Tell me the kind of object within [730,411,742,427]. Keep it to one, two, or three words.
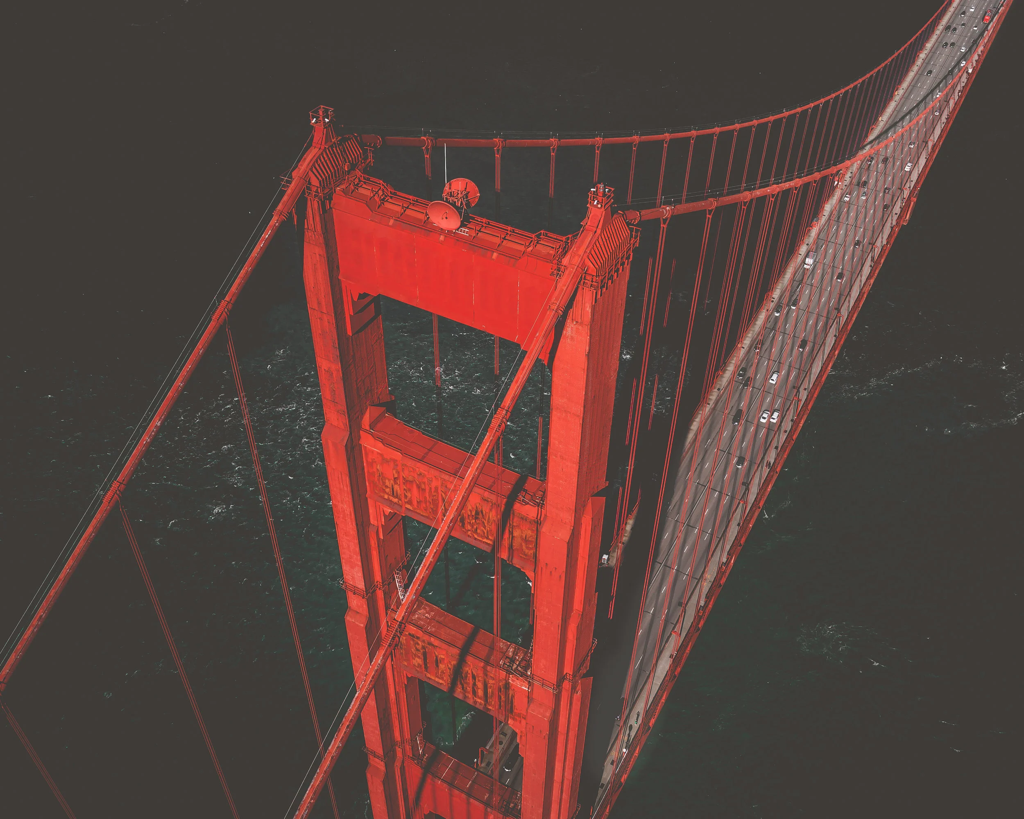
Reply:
vehicle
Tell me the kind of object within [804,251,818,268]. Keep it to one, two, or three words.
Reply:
vehicle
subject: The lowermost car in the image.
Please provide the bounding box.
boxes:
[503,745,521,771]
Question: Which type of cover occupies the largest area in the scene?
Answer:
water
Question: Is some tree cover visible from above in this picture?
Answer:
No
